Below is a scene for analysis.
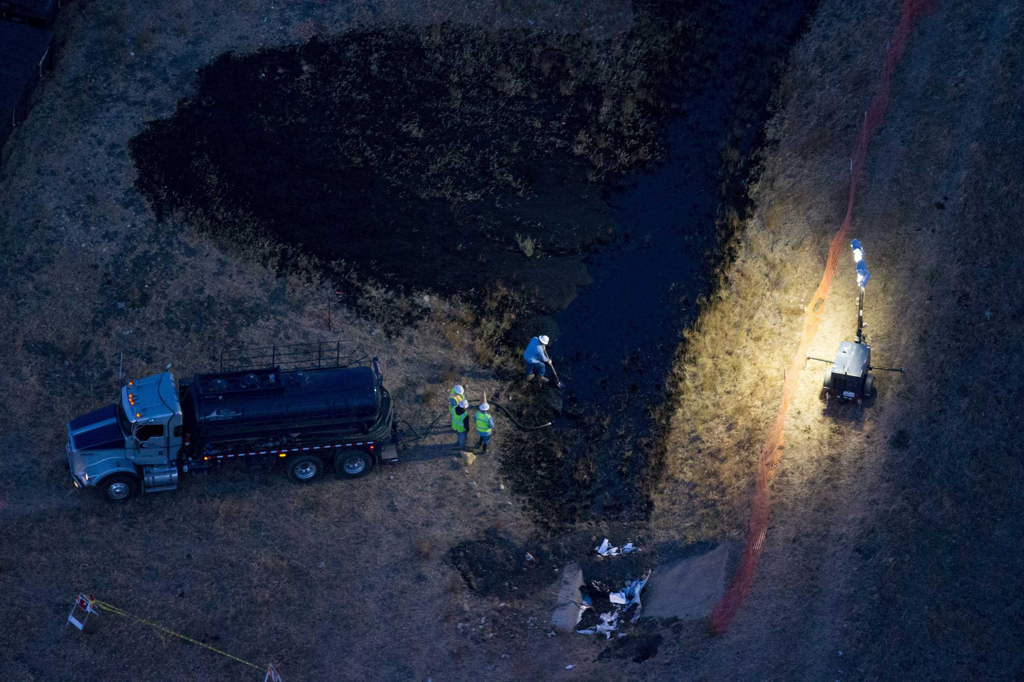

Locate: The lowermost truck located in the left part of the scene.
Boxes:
[61,340,397,504]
